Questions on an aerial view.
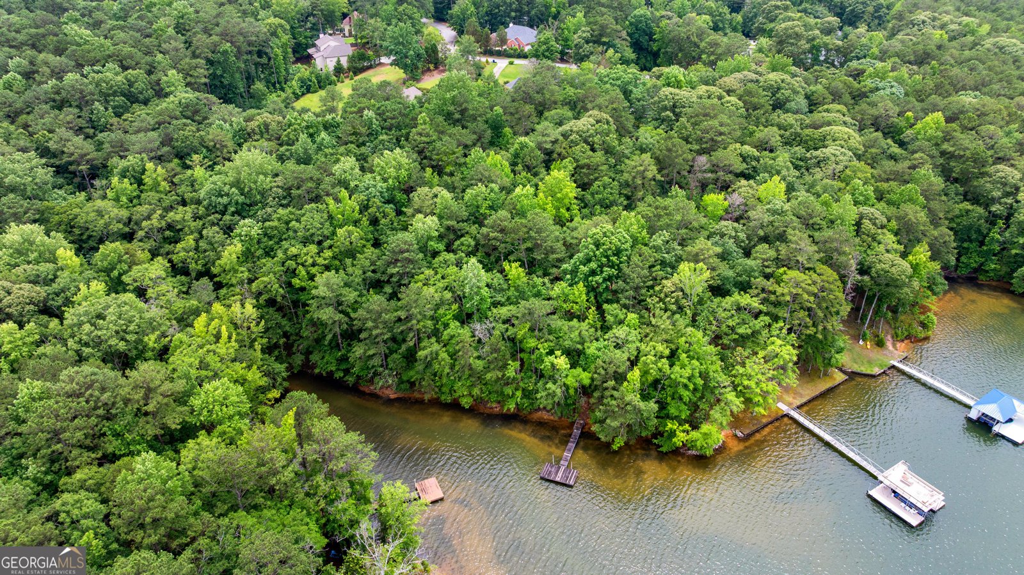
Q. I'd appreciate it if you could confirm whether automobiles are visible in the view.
No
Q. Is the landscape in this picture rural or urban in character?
rural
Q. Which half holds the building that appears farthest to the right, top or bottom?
bottom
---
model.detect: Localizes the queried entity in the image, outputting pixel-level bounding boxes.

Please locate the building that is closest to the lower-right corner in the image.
[966,387,1024,447]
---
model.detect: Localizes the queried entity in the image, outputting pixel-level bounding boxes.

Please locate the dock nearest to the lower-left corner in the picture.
[415,476,444,506]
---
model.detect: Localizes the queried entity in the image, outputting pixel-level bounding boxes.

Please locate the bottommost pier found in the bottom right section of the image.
[864,457,950,528]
